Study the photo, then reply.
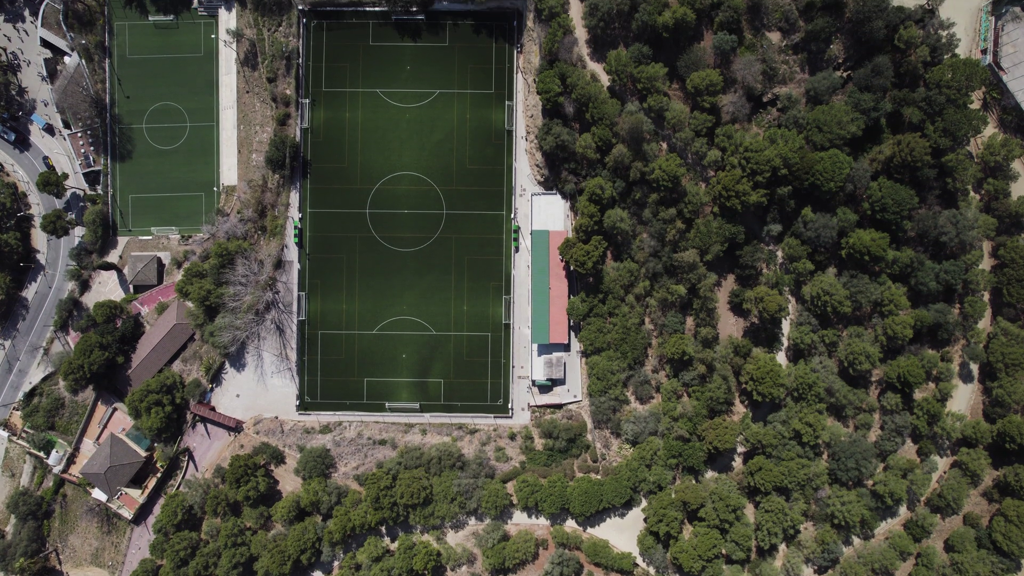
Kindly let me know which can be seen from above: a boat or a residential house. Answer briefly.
residential house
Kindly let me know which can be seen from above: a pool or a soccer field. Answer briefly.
soccer field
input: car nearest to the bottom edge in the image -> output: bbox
[40,153,55,172]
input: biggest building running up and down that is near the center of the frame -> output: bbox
[530,192,571,344]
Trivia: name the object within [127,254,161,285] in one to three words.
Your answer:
house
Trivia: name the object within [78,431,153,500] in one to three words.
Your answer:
house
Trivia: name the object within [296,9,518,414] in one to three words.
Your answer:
soccer field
